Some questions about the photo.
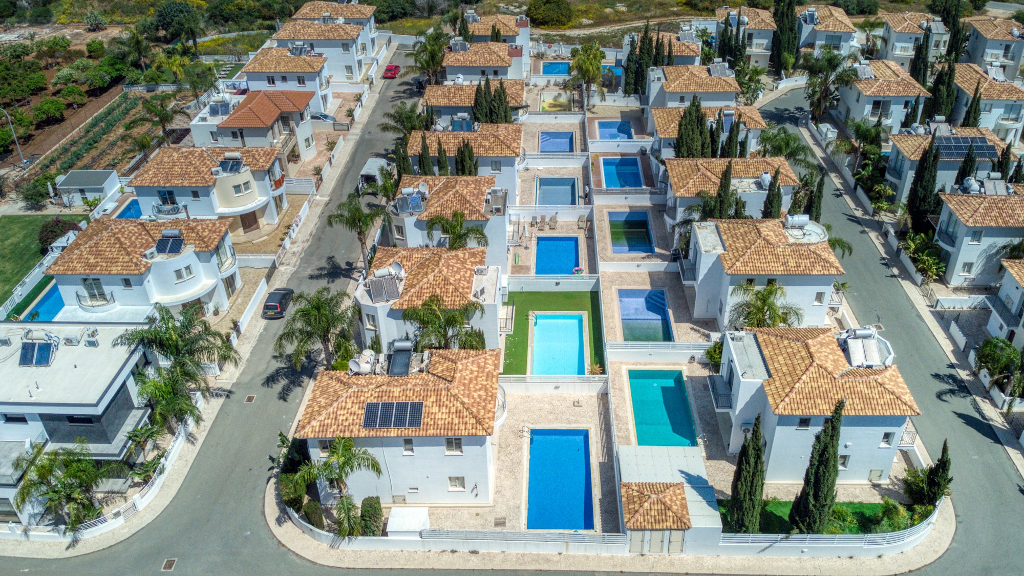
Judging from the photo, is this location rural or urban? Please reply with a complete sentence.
From above, the setting appears urban.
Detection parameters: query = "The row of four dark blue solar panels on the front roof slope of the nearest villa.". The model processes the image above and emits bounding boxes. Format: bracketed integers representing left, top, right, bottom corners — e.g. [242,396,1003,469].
[364,397,432,423]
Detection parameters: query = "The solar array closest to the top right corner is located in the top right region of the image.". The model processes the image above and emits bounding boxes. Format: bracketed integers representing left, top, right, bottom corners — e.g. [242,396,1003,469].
[928,130,1004,154]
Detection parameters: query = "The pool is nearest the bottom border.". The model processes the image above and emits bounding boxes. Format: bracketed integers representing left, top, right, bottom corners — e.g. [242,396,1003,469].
[520,424,601,534]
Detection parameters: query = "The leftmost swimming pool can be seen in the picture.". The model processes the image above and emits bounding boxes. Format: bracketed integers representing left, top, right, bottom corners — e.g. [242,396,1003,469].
[19,280,68,319]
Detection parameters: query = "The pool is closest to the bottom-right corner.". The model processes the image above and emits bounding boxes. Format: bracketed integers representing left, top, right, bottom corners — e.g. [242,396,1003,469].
[622,366,706,452]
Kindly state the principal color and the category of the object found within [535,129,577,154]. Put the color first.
blue swimming pool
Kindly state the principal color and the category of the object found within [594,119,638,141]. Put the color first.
blue swimming pool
